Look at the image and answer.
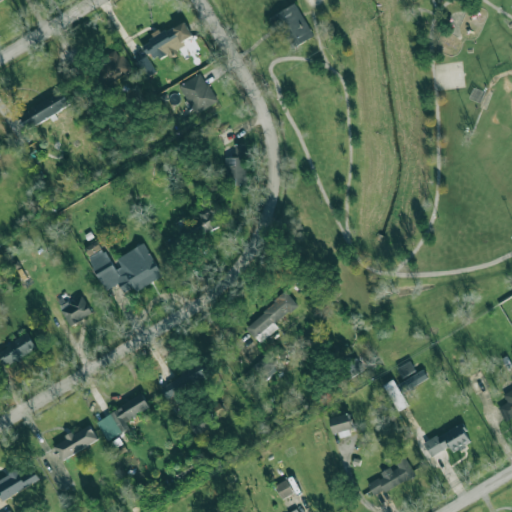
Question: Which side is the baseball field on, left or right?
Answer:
right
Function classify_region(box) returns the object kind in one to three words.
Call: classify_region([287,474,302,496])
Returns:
camper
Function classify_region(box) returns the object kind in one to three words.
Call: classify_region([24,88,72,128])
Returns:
house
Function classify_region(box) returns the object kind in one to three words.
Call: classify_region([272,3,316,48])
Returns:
building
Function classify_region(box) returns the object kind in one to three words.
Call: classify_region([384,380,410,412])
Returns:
shed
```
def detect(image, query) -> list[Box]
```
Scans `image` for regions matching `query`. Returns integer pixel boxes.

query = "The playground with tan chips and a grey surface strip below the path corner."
[440,8,488,56]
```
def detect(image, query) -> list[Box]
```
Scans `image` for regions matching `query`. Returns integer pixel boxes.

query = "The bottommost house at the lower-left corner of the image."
[0,466,41,504]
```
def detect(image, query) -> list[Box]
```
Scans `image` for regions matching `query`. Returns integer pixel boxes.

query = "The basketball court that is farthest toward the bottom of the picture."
[434,62,466,90]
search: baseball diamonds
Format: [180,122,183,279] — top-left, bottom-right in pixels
[457,77,512,244]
